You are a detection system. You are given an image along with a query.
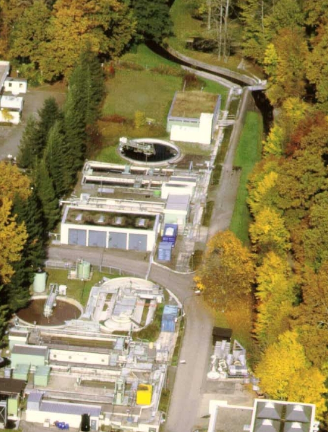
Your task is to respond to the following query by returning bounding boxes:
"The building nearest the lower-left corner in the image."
[0,385,28,432]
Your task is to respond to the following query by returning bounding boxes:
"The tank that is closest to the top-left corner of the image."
[112,138,184,169]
